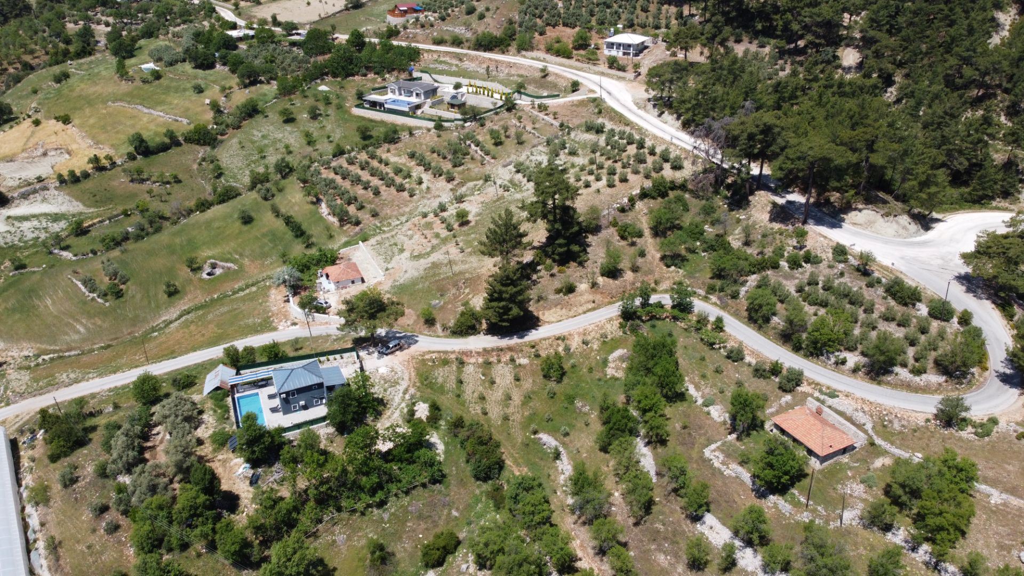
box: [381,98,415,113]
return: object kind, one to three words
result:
swimming pool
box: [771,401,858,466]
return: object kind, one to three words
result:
house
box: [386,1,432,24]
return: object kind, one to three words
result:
building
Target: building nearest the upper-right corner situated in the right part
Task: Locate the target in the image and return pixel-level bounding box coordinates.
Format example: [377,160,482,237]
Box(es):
[603,29,646,55]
